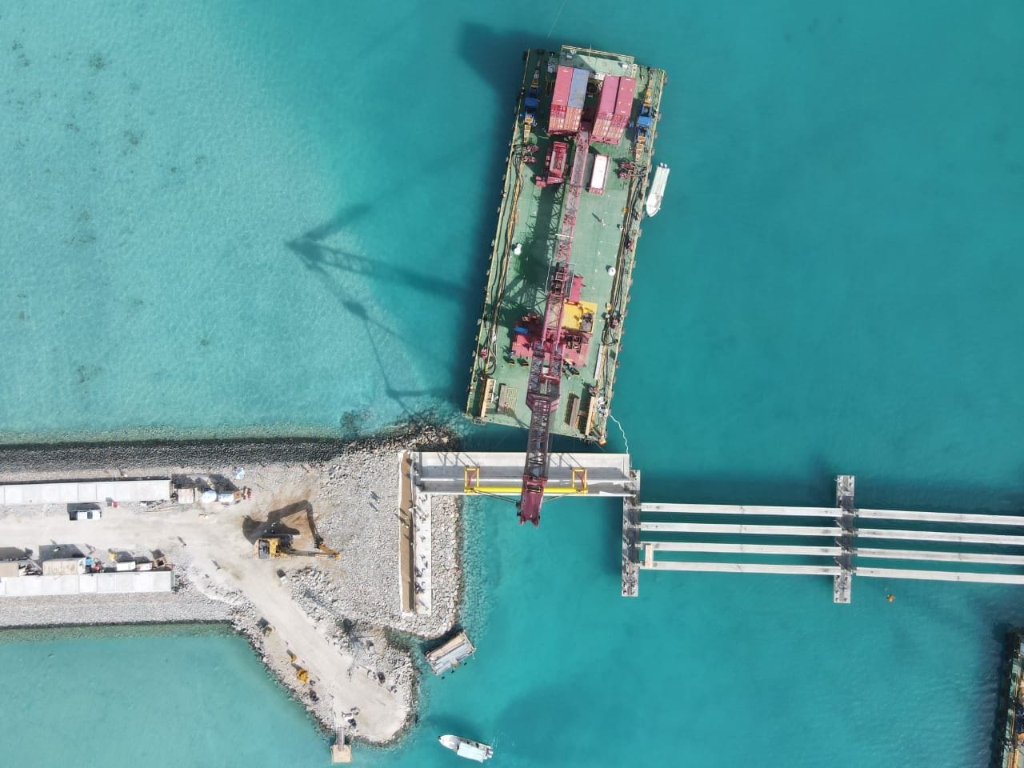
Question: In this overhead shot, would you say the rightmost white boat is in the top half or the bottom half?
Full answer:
The top half of the photo is where the rightmost white boat is.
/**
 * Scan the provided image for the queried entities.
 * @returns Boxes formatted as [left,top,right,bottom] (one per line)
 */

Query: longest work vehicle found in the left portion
[250,536,340,560]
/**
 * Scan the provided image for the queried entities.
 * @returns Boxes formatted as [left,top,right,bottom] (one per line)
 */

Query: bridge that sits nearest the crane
[419,453,634,495]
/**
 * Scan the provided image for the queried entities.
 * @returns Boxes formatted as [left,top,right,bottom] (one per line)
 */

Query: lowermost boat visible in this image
[439,735,498,767]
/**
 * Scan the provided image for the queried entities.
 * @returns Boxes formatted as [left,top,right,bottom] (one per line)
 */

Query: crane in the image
[511,120,599,528]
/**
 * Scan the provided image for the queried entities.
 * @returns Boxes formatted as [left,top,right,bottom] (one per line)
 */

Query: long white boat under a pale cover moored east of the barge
[649,162,669,214]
